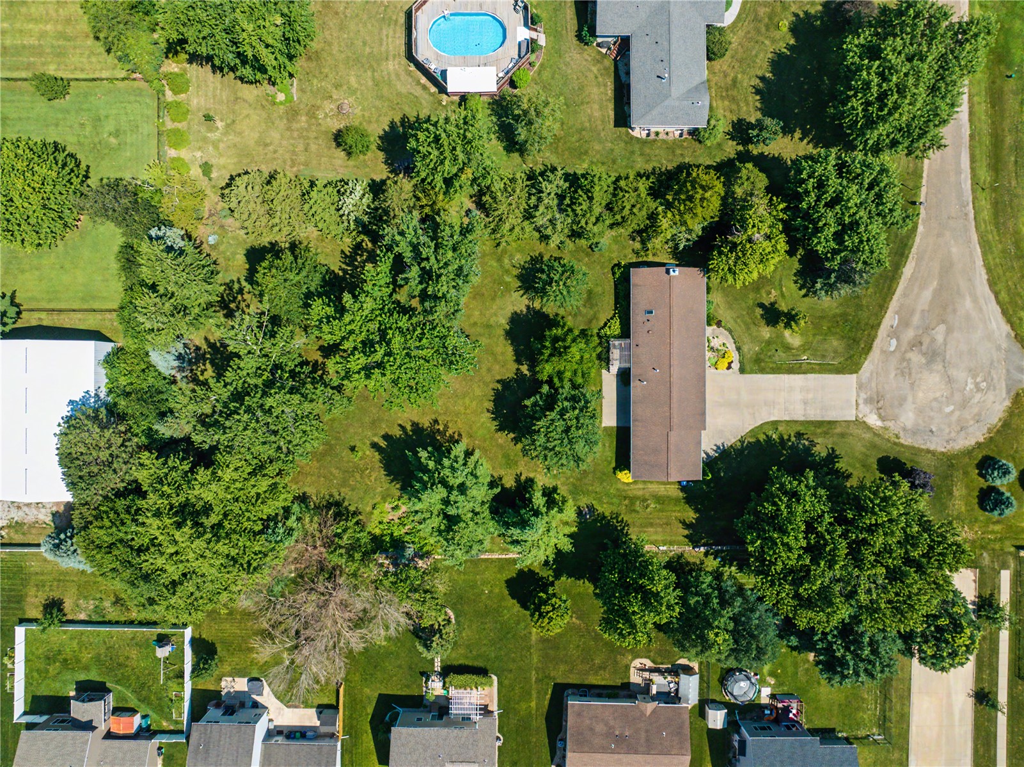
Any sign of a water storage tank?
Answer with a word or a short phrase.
No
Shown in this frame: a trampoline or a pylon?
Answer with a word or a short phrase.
trampoline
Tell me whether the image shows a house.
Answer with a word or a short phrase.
Yes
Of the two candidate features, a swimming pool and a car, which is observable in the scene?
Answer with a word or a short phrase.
swimming pool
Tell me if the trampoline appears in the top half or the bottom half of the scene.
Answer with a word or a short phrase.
bottom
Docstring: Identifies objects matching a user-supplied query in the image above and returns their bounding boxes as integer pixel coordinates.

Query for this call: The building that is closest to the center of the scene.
[629,265,707,482]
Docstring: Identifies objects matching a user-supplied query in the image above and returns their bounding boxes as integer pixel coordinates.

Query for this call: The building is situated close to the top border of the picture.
[596,0,728,132]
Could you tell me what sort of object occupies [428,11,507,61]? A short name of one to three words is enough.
swimming pool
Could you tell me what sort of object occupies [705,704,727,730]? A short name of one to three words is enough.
shed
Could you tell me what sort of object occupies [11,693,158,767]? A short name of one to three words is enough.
house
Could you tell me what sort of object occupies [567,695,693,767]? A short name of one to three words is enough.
house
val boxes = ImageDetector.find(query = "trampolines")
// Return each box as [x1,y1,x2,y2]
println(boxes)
[721,667,761,708]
